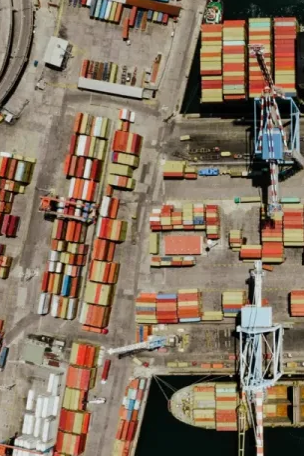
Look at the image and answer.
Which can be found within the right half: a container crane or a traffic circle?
container crane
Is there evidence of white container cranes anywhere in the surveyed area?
Yes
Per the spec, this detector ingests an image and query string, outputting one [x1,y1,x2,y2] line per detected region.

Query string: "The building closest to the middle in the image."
[165,236,206,255]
